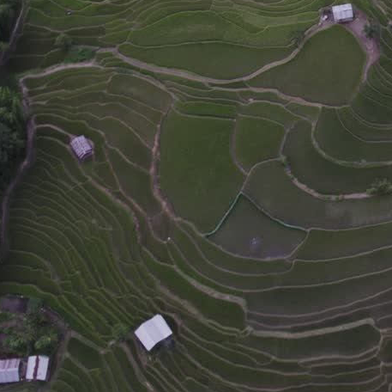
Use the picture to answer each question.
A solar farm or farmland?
farmland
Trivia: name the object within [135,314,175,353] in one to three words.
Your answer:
shed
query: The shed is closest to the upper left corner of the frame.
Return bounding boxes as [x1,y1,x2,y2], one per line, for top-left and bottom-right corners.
[70,135,97,160]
